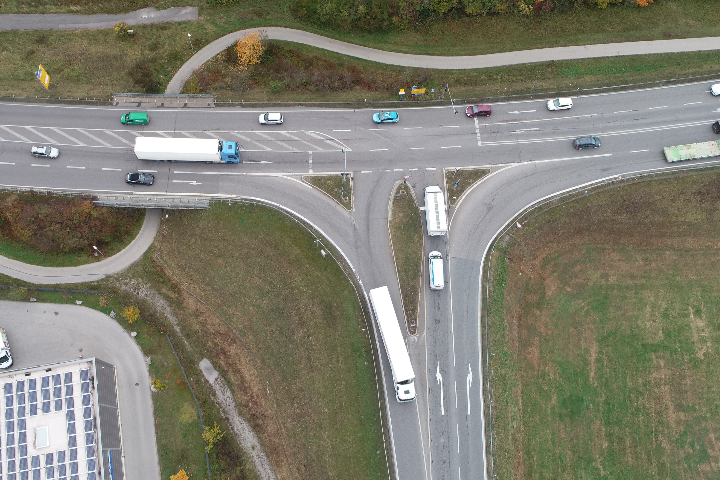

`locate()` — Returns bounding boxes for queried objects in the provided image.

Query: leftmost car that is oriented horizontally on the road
[29,145,61,159]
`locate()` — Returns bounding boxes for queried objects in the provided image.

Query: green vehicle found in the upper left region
[120,111,151,125]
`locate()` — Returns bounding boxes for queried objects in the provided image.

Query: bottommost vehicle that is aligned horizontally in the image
[125,172,155,185]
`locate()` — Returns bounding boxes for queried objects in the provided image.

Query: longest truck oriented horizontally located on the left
[135,138,240,162]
